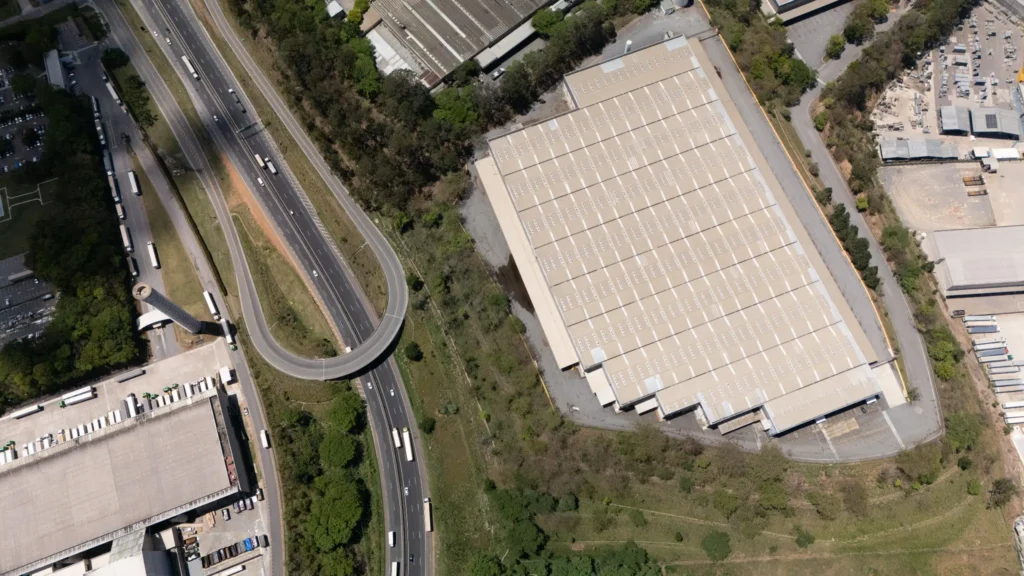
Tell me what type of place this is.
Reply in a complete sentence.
What you see here is an industrial area.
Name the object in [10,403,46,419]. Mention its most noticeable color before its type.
white vehicle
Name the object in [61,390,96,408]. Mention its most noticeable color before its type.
white vehicle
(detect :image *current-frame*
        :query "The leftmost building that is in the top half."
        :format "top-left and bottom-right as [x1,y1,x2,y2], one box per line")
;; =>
[45,50,69,92]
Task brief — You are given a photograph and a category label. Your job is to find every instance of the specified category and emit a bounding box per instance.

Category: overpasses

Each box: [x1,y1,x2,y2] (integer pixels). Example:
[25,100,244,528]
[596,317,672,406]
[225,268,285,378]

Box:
[326,293,405,381]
